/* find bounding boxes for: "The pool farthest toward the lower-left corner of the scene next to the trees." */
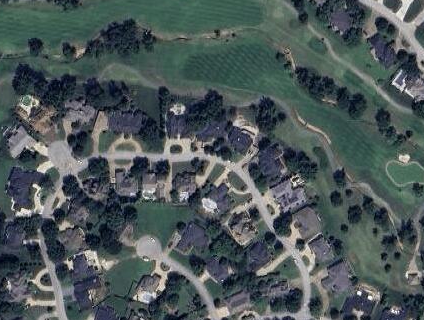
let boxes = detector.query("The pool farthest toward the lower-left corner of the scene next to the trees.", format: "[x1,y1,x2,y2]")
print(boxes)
[134,291,155,304]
